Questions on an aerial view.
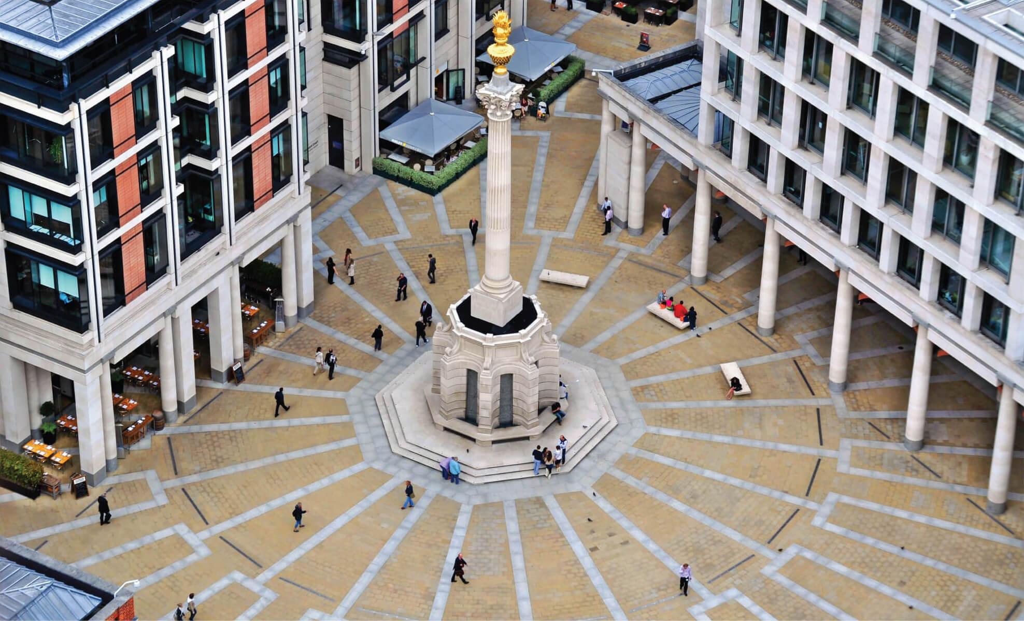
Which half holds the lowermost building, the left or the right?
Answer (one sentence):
The lowermost building sits on the left side.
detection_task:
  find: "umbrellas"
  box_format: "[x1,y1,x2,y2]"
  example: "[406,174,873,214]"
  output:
[377,100,486,165]
[506,26,582,96]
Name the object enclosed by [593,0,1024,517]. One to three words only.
building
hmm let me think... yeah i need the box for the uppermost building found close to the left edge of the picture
[0,0,313,476]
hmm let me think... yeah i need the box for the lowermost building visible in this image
[0,539,133,621]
